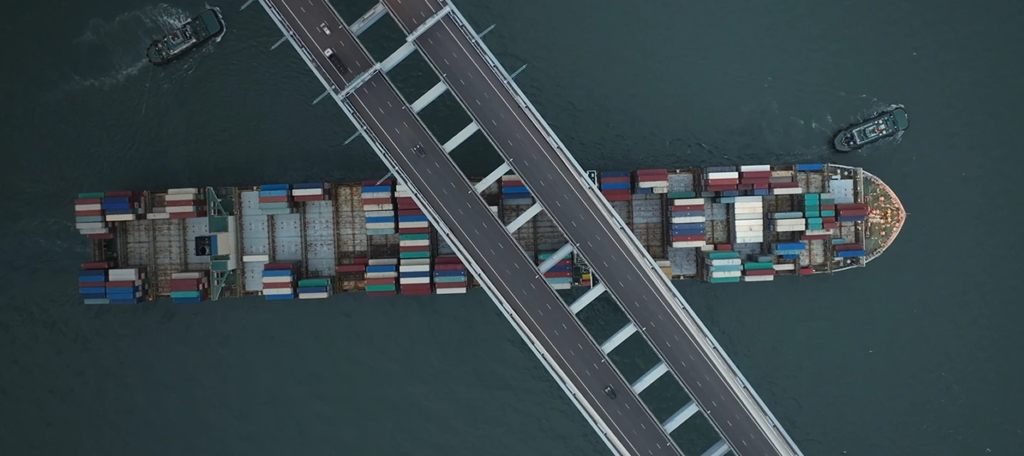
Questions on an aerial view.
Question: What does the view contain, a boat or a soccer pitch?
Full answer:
There is a boat in the scene.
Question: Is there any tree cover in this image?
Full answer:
No, there is no tree cover in the image.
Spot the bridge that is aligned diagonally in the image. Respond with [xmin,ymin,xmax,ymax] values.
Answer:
[240,0,805,456]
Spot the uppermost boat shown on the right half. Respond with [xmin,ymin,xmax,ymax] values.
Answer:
[834,104,911,153]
